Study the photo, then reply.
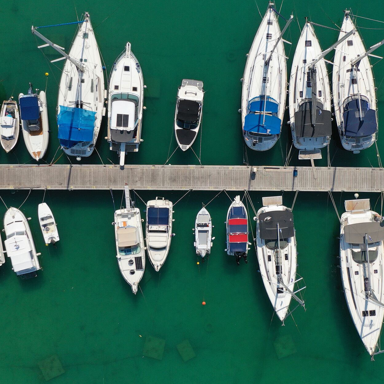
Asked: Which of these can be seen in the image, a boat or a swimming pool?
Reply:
boat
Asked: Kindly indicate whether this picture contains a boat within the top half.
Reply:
Yes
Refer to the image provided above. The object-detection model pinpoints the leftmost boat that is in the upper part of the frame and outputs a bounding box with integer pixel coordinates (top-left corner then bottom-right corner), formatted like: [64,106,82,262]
[0,97,20,153]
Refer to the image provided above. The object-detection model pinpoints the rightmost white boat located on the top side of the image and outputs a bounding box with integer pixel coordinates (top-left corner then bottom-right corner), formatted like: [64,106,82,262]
[331,8,384,154]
